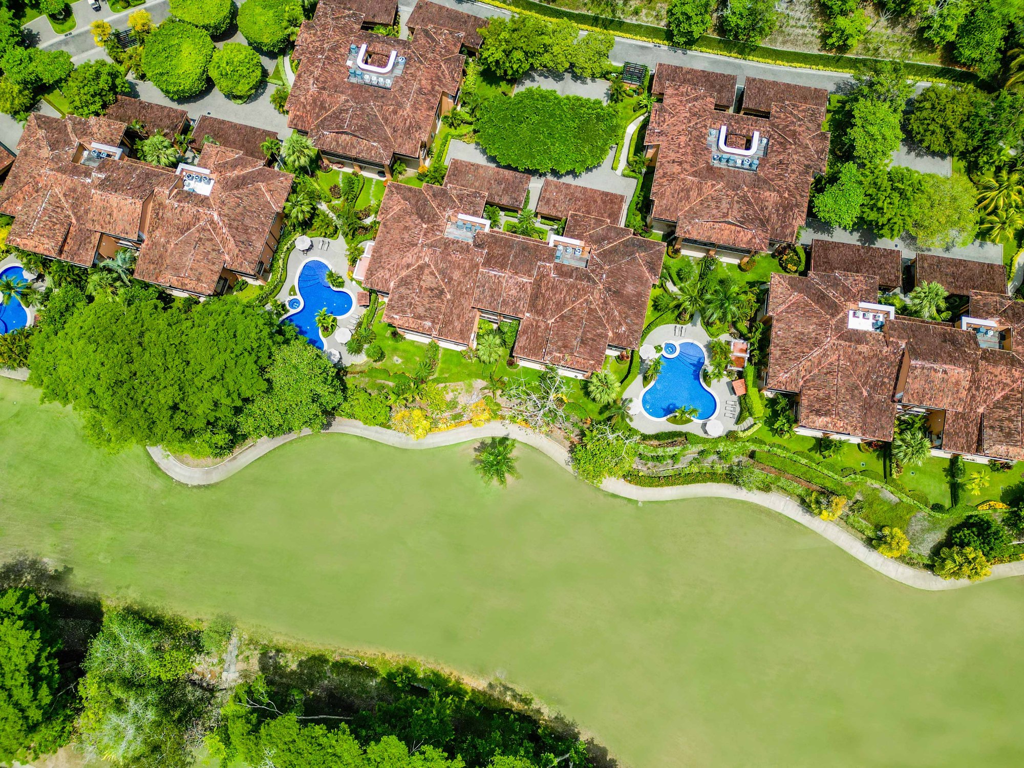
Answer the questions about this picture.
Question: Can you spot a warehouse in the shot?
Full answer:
No, I can see no warehouse in this picture.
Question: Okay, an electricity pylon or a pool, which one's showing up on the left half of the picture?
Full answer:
What appears on the left half of the picture is a pool.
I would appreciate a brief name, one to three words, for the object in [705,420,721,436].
umbrella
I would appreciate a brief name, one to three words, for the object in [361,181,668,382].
house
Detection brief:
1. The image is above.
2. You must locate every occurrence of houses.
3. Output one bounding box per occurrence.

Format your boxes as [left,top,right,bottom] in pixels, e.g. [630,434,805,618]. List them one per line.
[285,1,466,179]
[761,268,1024,470]
[361,181,668,382]
[0,111,298,307]
[646,80,829,266]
